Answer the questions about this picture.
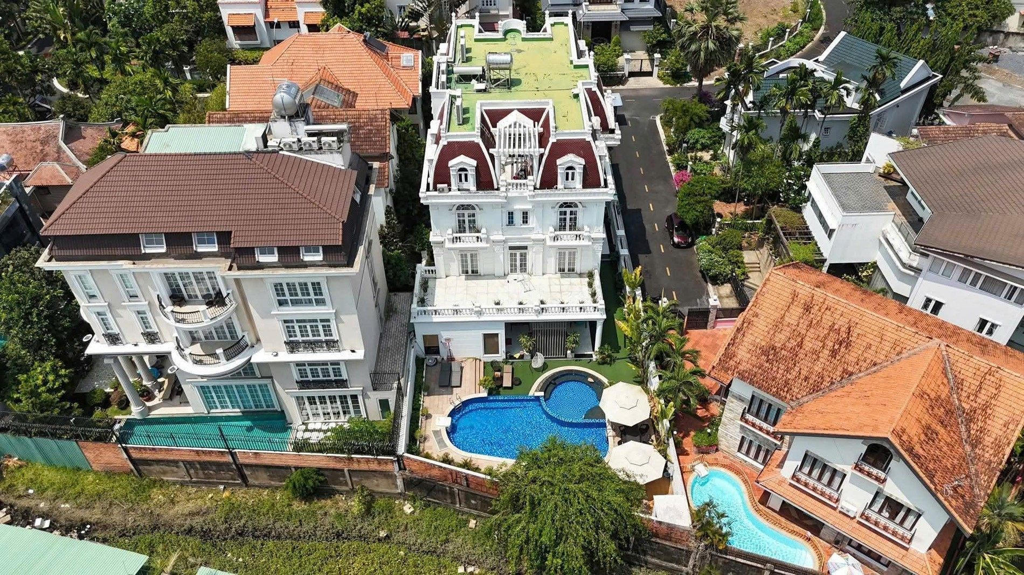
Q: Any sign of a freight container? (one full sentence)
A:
No, I can see no freight container in this picture.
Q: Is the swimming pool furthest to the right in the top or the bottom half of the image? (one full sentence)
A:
The bottom half of the photo is where the swimming pool furthest to the right is.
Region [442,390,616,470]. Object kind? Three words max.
swimming pool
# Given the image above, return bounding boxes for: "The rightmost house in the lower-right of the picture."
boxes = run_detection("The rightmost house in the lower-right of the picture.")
[697,266,1024,575]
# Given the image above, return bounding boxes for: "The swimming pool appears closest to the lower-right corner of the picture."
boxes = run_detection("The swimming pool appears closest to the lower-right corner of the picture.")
[685,462,820,575]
